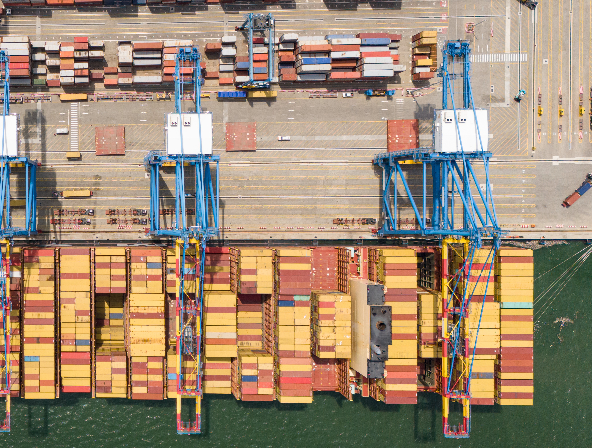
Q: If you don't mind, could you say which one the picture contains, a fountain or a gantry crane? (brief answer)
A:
gantry crane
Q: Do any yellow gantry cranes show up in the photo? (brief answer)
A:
No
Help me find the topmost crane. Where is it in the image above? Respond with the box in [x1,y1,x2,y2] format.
[234,11,276,91]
